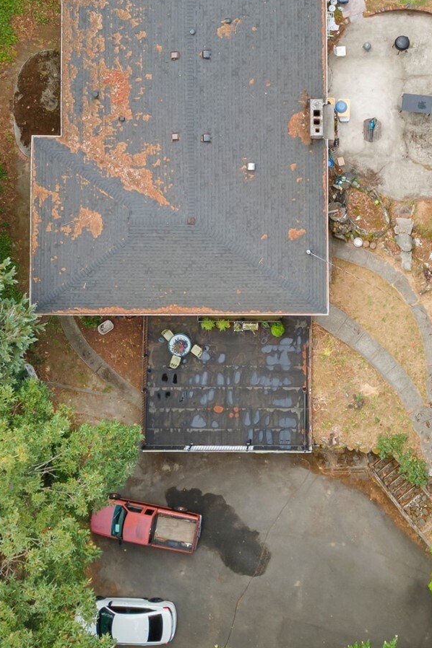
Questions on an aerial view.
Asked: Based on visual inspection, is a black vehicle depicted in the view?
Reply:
No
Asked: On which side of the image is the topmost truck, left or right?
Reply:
left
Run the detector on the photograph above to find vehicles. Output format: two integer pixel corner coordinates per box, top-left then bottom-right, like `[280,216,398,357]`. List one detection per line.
[80,596,177,648]
[87,491,206,556]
